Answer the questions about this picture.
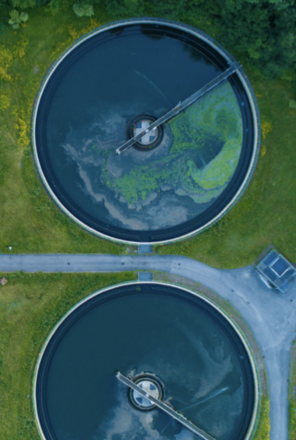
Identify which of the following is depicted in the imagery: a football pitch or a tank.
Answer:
tank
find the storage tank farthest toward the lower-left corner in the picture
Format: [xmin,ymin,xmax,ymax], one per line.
[32,278,260,440]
